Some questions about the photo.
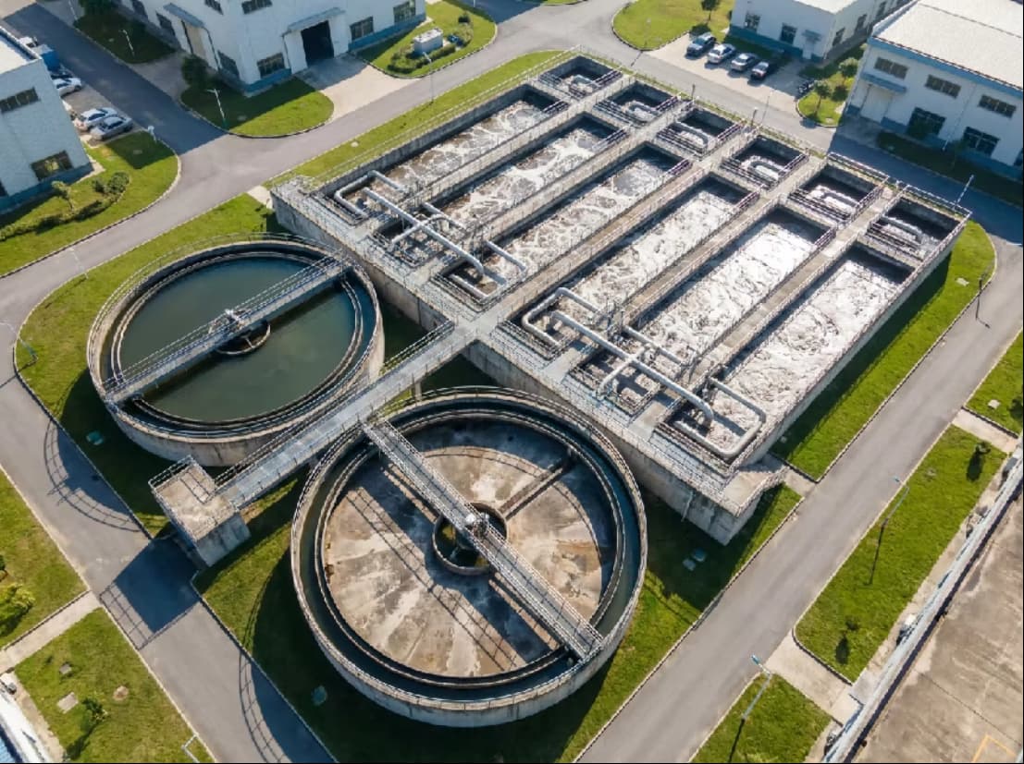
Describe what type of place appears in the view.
industrial area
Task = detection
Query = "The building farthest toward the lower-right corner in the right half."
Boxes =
[828,462,1024,764]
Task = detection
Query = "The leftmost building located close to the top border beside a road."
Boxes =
[0,25,93,206]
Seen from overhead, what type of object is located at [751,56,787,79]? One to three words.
car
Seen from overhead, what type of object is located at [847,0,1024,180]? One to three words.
warehouse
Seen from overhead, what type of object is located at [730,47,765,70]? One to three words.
car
